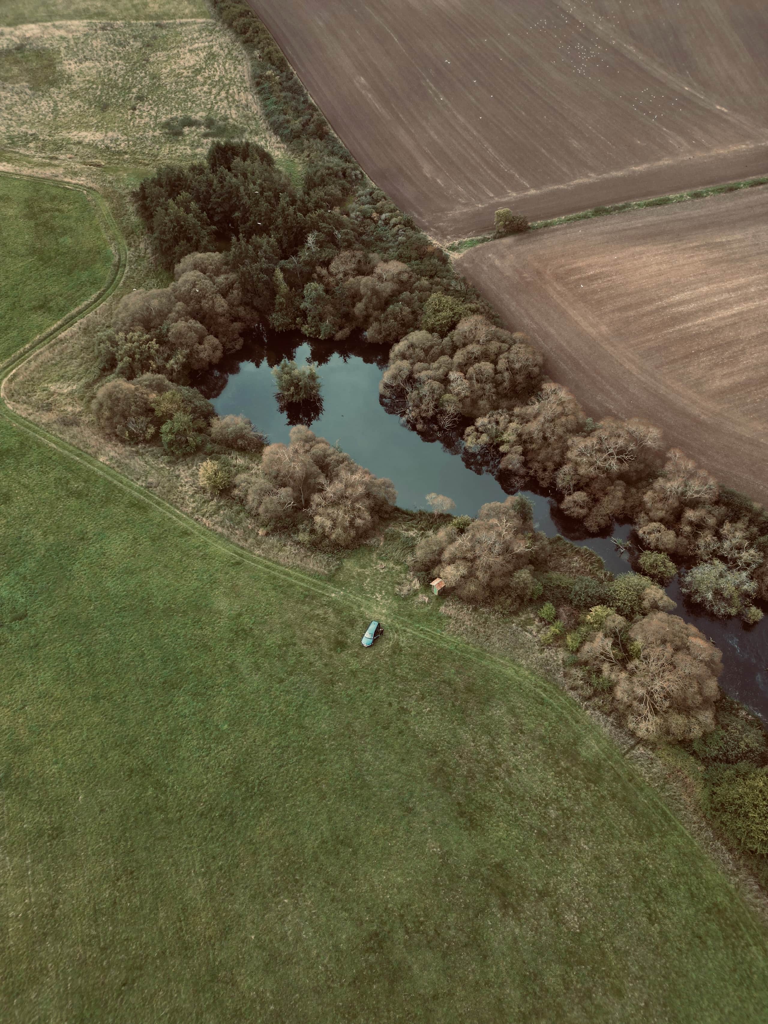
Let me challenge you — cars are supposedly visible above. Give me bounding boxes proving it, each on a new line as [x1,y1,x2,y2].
[361,621,380,647]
